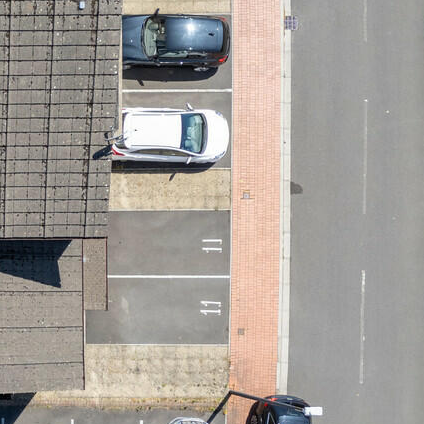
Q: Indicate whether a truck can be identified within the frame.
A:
No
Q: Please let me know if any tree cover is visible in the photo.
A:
No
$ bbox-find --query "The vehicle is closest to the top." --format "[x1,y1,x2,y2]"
[121,5,231,69]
